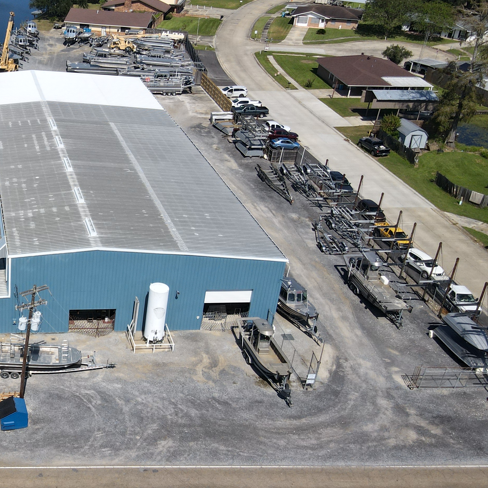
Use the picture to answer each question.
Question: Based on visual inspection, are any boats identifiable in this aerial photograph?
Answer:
Yes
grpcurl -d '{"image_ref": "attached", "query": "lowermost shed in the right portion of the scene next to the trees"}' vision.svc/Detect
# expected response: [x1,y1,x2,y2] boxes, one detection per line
[406,110,435,149]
